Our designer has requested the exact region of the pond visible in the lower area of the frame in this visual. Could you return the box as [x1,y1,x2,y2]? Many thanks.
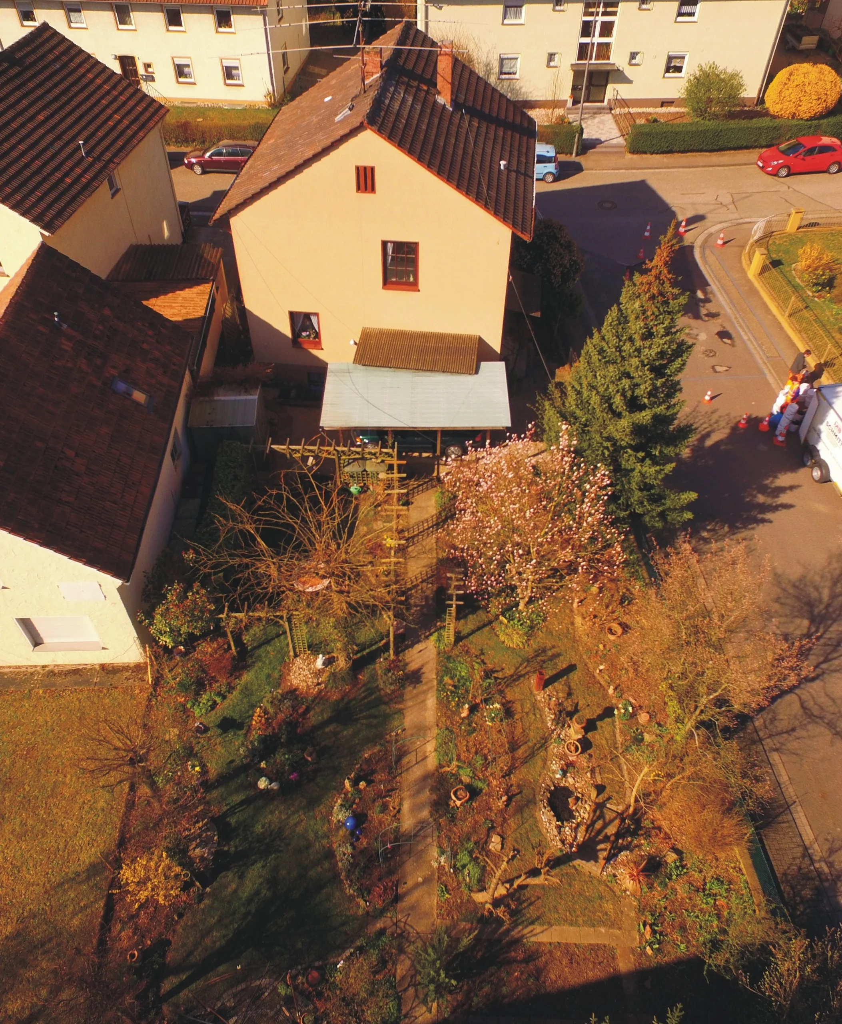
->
[536,759,593,857]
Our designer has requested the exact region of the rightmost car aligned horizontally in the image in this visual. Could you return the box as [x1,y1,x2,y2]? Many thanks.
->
[755,131,842,176]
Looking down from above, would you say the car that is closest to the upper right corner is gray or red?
red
